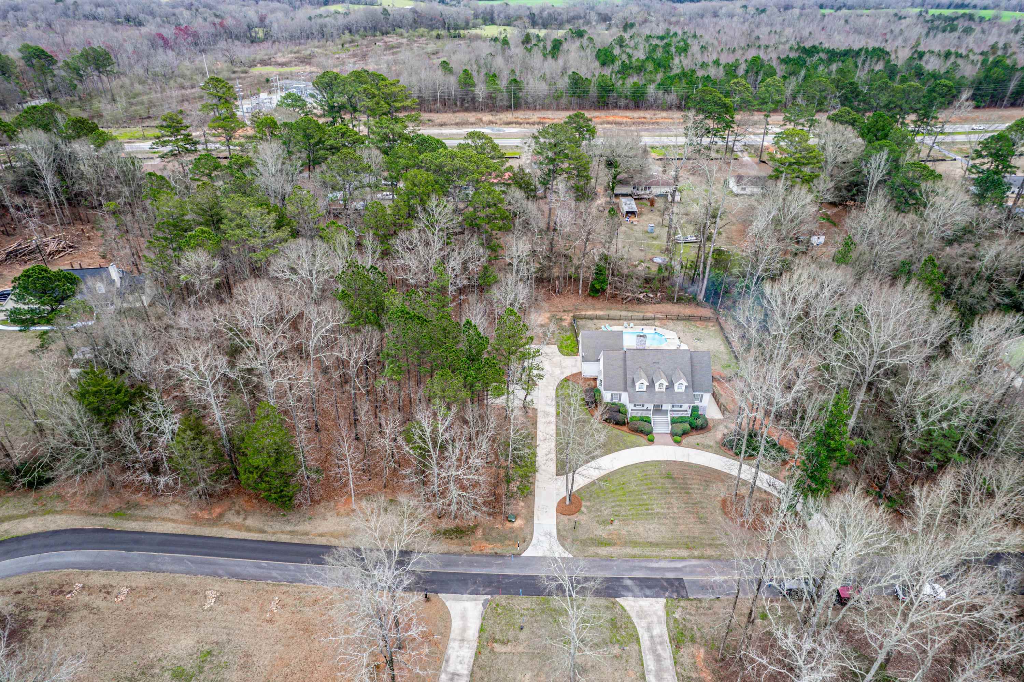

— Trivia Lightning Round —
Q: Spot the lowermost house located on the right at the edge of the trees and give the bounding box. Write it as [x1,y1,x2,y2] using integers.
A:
[578,330,713,433]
